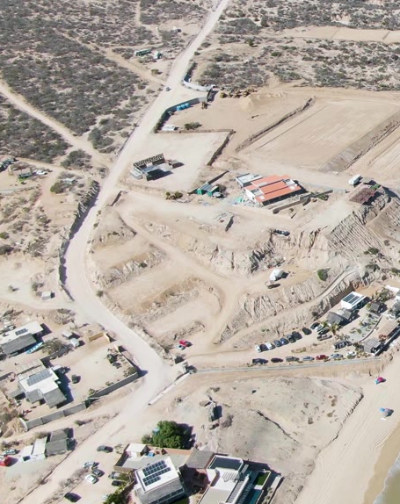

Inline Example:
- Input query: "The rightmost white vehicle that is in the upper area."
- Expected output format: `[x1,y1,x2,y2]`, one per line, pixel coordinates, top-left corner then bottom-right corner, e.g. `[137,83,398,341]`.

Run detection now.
[347,172,364,188]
